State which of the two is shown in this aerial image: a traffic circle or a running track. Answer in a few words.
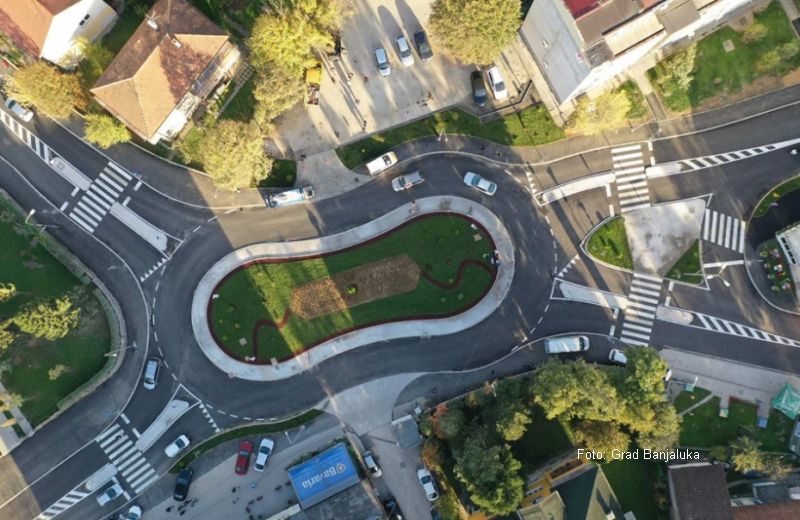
traffic circle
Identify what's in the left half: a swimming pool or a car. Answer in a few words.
car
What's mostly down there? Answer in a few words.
paved ground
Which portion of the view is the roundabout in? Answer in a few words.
center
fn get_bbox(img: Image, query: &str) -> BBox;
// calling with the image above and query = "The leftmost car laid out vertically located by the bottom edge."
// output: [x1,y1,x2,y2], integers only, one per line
[174,465,195,502]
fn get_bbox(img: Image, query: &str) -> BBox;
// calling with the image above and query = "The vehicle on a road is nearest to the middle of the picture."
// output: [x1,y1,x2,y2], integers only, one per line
[390,170,426,192]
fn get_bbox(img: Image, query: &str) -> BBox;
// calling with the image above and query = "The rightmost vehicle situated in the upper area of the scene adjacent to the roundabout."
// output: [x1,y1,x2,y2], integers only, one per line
[462,172,498,196]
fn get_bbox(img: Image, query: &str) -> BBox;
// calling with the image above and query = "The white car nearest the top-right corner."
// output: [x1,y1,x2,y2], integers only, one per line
[486,65,507,102]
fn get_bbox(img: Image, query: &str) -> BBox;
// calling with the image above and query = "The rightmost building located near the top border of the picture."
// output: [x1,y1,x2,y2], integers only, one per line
[517,0,769,104]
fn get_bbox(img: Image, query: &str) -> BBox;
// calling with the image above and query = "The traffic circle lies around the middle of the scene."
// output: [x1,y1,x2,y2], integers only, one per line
[191,194,516,382]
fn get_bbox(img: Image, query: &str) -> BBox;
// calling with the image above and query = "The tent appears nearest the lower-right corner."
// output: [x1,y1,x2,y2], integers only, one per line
[759,377,800,421]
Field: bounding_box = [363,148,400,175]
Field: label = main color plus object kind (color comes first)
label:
white vehicle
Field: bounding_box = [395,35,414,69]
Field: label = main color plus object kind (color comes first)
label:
white car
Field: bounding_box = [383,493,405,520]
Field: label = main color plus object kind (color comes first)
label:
black car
